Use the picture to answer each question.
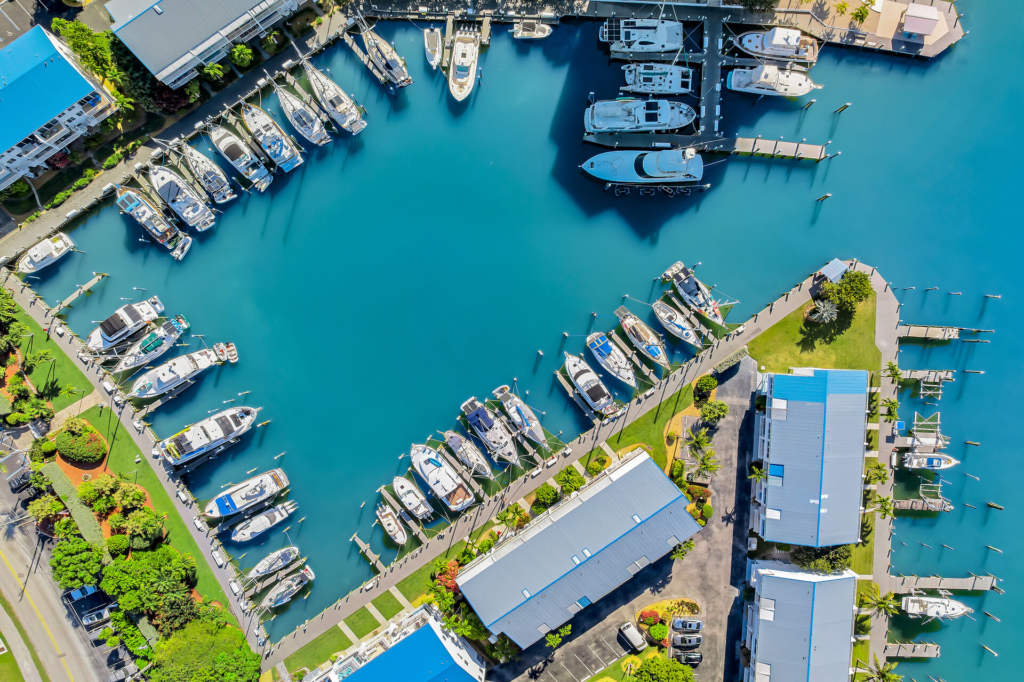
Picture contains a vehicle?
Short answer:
Yes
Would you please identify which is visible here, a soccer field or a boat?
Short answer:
boat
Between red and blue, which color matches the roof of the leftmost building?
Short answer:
blue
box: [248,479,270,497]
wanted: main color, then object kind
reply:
white boat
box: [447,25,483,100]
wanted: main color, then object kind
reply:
white boat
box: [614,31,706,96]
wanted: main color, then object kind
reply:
blue boat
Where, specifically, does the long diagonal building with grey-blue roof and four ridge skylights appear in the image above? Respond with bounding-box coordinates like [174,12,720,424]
[459,450,702,650]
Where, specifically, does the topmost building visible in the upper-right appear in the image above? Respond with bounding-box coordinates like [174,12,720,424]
[896,2,938,40]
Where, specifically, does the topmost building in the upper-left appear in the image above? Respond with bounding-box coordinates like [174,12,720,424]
[103,0,326,95]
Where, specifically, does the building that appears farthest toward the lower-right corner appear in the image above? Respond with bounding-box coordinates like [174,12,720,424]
[739,553,855,682]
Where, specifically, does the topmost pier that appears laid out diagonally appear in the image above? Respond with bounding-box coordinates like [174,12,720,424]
[342,31,387,82]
